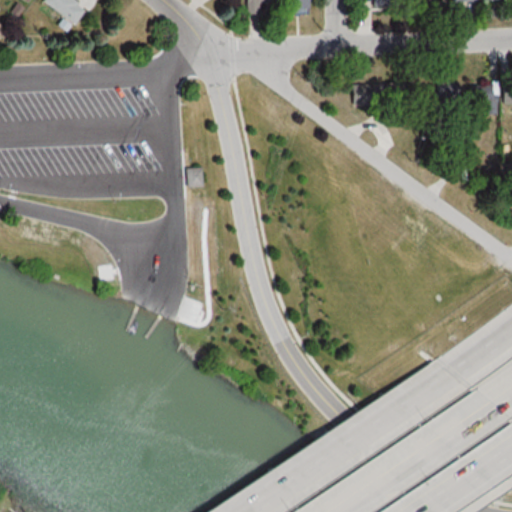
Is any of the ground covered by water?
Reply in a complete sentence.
Yes, water shows up in the scene.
